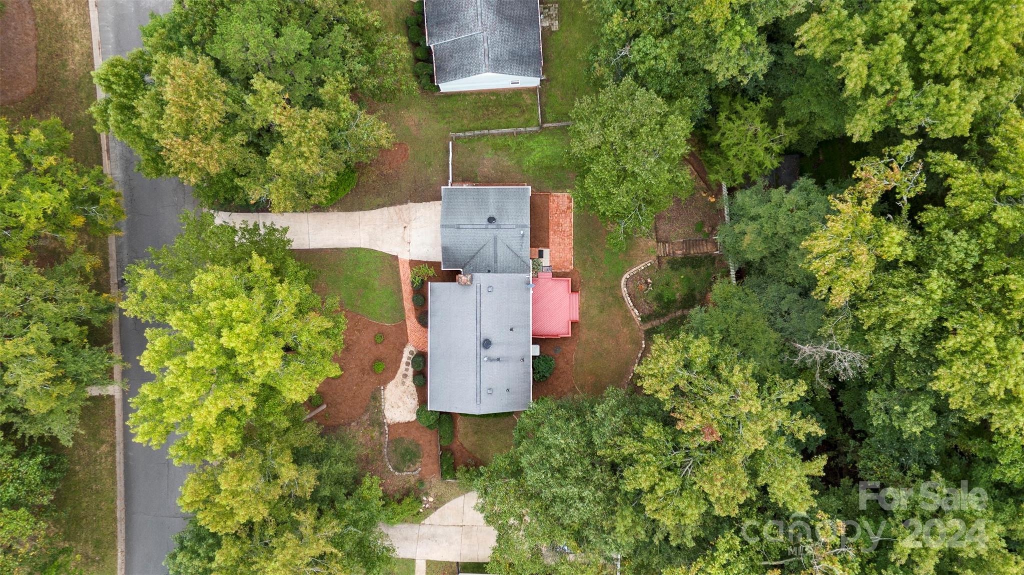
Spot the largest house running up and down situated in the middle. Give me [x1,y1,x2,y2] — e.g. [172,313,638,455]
[427,185,536,415]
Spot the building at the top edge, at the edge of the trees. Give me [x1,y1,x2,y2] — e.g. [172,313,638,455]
[419,0,546,92]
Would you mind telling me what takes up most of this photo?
trees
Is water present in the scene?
No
